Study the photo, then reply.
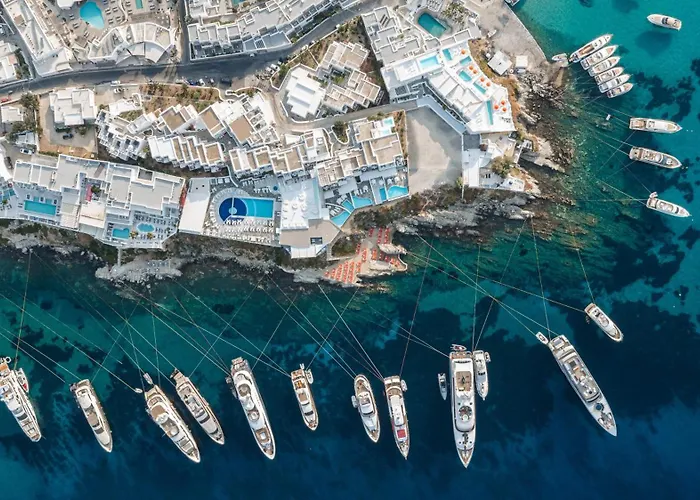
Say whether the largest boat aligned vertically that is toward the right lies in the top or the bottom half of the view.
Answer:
bottom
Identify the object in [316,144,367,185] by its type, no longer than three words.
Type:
house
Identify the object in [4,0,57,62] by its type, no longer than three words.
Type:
building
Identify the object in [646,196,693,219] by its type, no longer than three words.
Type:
boat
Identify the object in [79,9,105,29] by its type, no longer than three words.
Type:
swimming pool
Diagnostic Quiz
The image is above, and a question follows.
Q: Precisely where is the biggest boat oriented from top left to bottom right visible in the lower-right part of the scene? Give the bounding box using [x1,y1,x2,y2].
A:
[547,331,619,438]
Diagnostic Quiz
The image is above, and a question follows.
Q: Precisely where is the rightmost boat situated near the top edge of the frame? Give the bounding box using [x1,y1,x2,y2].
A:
[646,12,684,30]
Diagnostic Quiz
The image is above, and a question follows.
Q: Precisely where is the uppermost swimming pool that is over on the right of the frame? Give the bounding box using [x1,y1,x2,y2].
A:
[417,12,447,38]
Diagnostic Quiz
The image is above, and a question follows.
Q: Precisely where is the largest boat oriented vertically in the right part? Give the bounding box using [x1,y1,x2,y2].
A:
[447,350,476,471]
